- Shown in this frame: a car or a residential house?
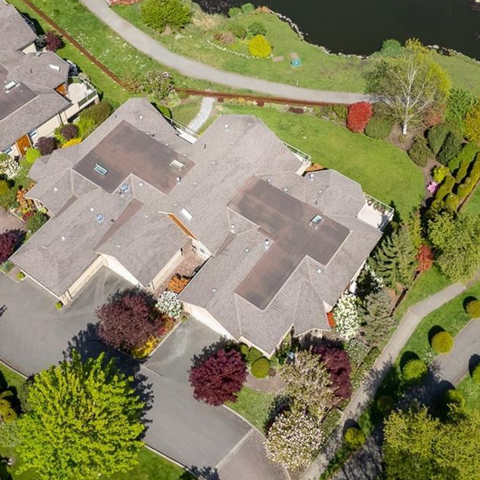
residential house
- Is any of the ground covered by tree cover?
Yes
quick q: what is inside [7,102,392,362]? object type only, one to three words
house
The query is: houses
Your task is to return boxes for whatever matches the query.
[7,102,392,362]
[0,0,99,156]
